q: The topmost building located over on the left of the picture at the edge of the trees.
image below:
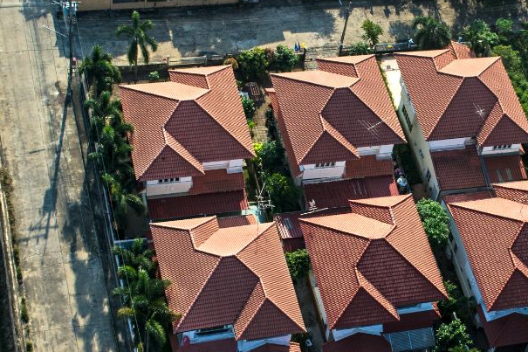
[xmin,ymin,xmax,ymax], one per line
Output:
[119,65,256,240]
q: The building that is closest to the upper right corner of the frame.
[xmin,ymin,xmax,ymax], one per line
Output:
[393,34,528,209]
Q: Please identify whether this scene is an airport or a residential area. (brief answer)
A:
residential area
